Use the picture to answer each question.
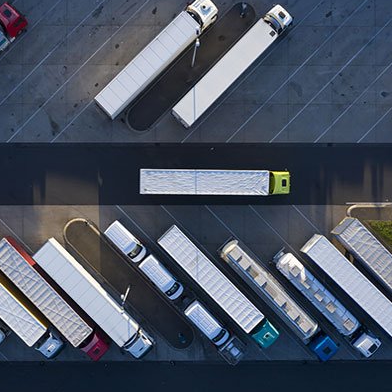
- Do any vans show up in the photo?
Yes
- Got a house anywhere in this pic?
No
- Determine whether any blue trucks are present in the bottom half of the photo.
Yes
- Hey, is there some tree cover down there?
No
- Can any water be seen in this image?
No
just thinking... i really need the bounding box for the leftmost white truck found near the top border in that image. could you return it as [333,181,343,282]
[95,0,218,119]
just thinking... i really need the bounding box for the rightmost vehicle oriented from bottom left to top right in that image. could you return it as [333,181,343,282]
[171,3,294,129]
